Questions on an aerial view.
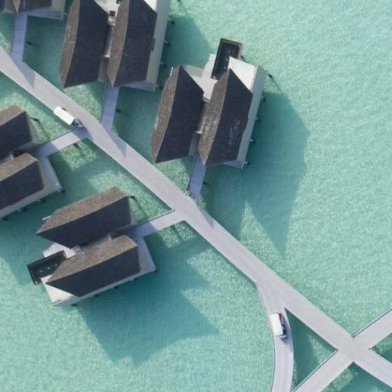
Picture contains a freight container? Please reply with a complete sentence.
No, there isn't any freight container down there.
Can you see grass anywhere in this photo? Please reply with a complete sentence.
No, there's no grass in this view.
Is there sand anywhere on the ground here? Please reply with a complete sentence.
Yes, there is sand in the image.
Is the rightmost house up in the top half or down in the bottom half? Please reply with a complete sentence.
Seen from above, the rightmost house lies in the top half of the view.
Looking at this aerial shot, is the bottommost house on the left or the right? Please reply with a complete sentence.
The bottommost house sits on the left side.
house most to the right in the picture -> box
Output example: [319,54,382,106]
[152,51,278,174]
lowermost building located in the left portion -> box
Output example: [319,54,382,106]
[36,187,173,306]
